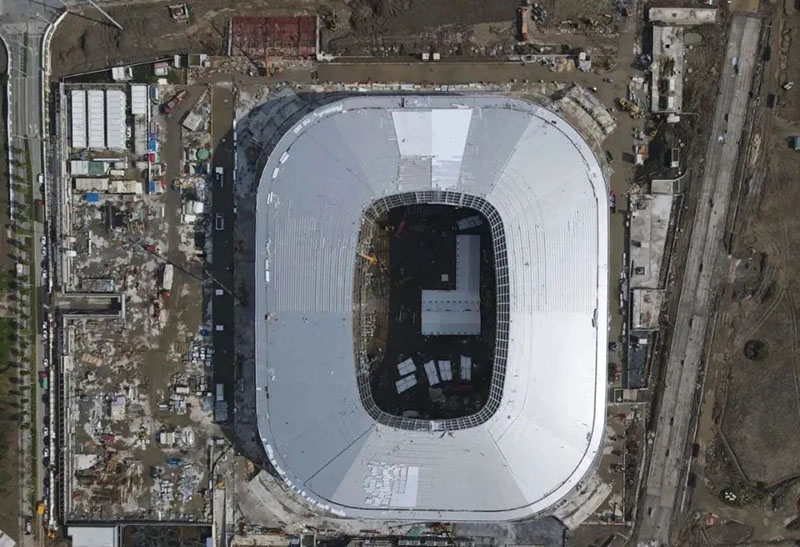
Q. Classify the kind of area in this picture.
sports ground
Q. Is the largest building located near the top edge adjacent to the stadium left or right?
right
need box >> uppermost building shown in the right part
[646,8,716,26]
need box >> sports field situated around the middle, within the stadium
[388,204,497,413]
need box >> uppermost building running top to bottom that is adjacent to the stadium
[648,25,683,115]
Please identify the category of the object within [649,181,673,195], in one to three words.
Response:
building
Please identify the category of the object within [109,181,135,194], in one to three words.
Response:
building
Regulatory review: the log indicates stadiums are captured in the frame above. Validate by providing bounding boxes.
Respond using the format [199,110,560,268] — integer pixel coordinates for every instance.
[235,80,623,547]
